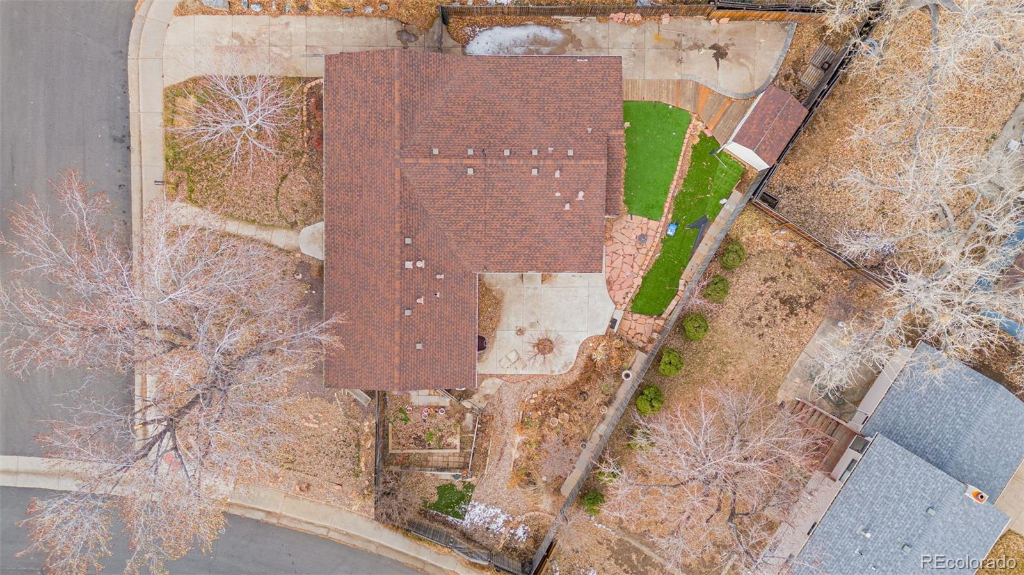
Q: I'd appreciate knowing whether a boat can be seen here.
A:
No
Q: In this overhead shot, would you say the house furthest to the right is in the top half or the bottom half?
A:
bottom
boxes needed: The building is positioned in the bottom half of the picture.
[771,340,1024,575]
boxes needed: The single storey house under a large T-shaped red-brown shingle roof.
[323,48,625,391]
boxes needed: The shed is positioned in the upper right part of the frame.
[721,85,808,173]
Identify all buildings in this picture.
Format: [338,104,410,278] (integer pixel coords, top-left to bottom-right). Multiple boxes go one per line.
[323,48,625,391]
[721,85,808,173]
[771,340,1024,575]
